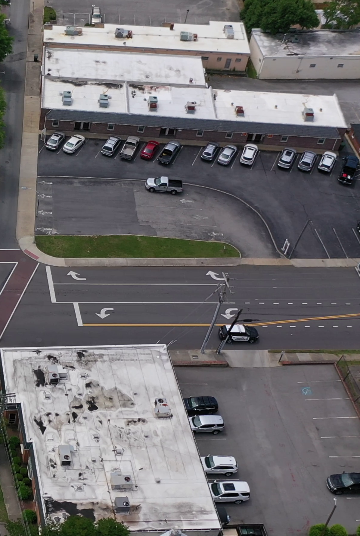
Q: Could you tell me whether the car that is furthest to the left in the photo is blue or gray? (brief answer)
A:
gray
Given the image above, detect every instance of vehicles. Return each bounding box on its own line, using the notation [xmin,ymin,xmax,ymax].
[138,142,161,163]
[97,136,124,157]
[144,178,184,193]
[216,323,261,343]
[336,156,359,183]
[188,413,231,434]
[296,150,318,174]
[115,135,143,161]
[156,140,183,166]
[201,453,246,476]
[199,142,221,163]
[326,473,360,496]
[216,505,236,525]
[275,149,297,171]
[238,144,260,167]
[183,395,225,416]
[61,136,86,155]
[216,146,239,167]
[316,152,339,175]
[89,5,105,25]
[43,133,68,154]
